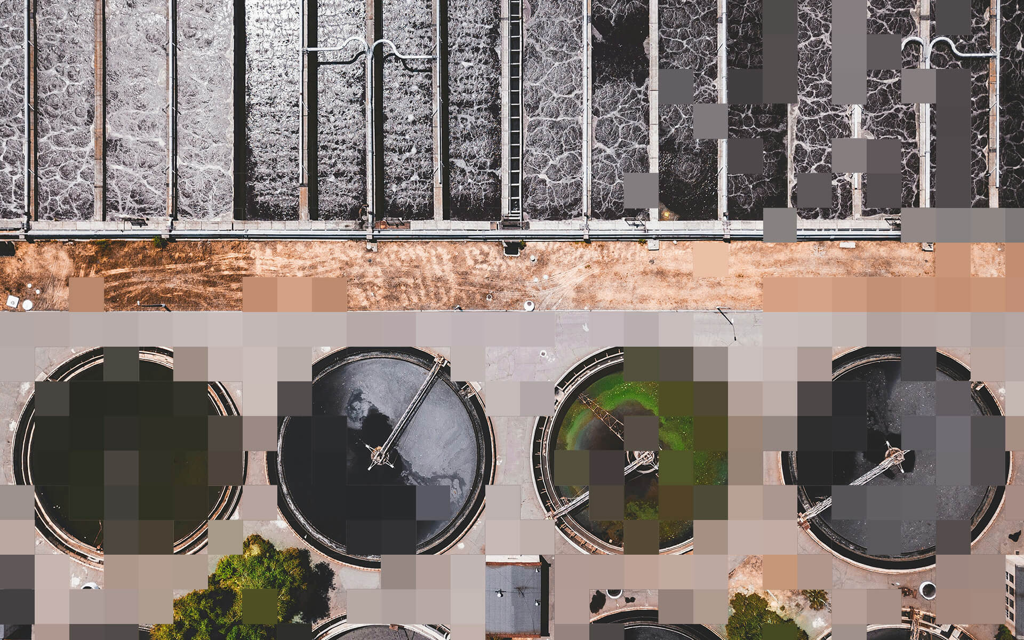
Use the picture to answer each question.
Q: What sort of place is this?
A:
industrial area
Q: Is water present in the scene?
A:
Yes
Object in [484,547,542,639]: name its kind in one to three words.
building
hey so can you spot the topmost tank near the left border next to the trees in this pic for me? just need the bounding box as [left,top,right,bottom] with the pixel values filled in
[11,341,247,577]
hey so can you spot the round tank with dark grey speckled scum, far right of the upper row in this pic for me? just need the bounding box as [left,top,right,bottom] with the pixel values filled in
[780,343,1013,575]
